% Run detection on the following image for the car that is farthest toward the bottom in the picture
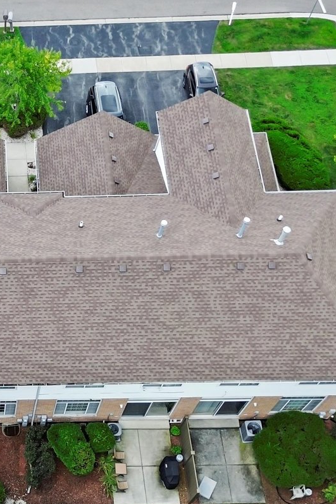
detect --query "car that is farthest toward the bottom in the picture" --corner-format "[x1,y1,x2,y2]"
[84,84,127,123]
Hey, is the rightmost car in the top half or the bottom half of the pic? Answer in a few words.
top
